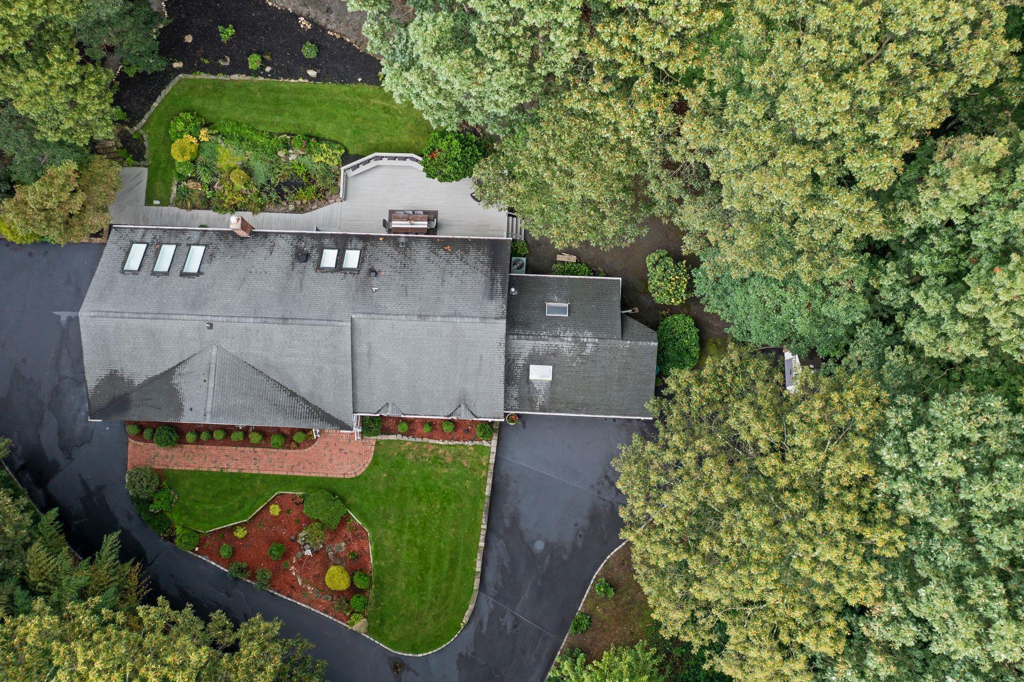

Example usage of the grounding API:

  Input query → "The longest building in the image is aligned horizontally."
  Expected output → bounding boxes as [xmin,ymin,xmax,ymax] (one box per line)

[79,215,658,432]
